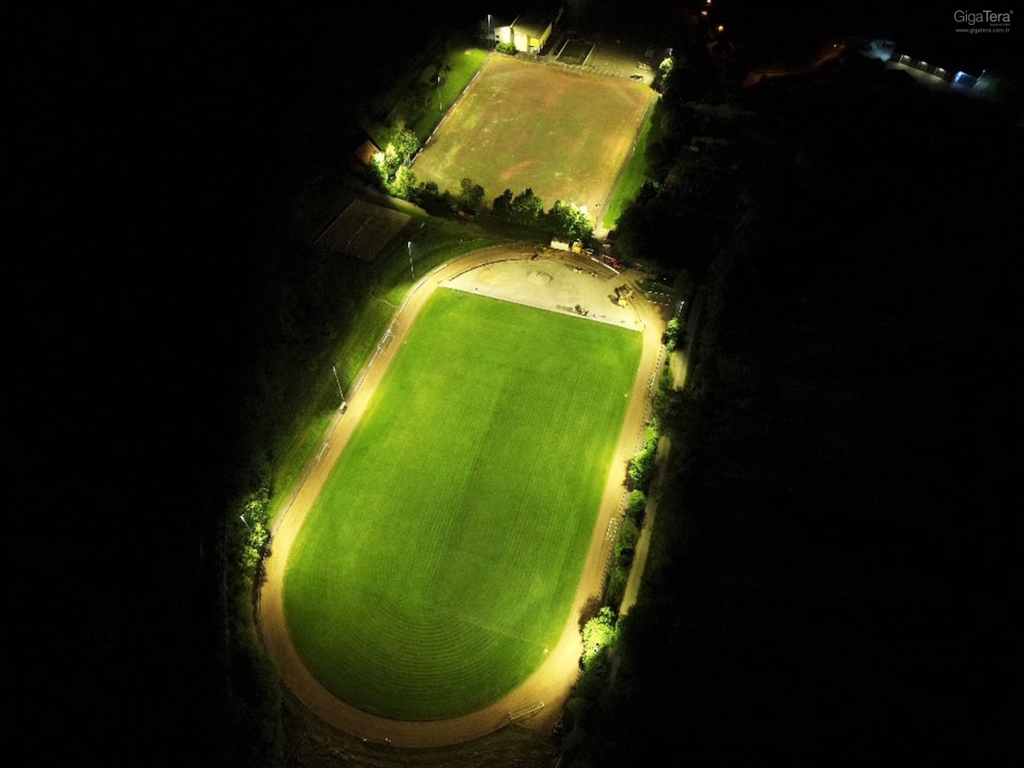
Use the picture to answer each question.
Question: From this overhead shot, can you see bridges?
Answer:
No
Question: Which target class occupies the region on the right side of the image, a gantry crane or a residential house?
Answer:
residential house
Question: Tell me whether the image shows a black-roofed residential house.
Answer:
Yes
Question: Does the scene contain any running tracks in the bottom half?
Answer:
Yes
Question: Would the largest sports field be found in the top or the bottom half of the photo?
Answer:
bottom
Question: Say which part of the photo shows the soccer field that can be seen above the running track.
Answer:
top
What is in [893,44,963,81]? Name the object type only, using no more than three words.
building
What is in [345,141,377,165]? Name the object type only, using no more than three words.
shed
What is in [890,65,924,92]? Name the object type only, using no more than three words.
house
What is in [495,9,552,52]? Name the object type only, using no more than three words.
building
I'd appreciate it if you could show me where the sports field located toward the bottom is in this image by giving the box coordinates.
[284,287,641,721]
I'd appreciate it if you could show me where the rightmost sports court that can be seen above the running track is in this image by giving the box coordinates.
[555,40,593,65]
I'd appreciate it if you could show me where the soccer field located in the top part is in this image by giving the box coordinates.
[407,52,657,225]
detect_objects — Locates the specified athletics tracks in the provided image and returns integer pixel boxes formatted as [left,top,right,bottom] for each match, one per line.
[259,249,661,751]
